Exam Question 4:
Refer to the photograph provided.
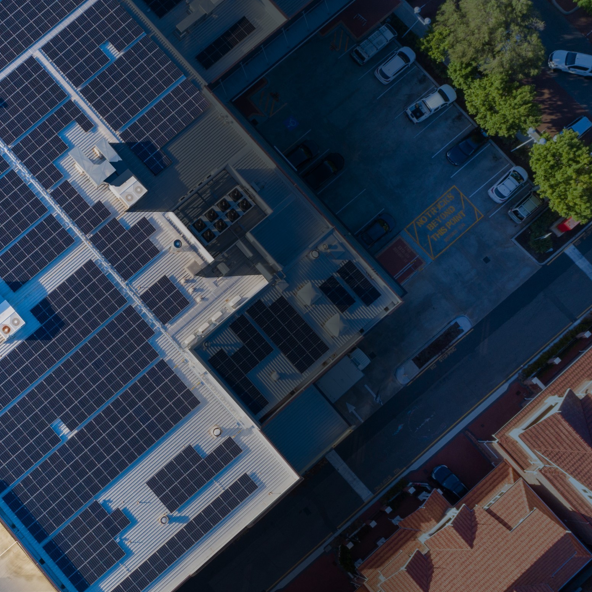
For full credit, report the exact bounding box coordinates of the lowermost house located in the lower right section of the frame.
[352,459,592,592]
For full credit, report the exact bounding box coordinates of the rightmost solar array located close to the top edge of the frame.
[195,17,256,71]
